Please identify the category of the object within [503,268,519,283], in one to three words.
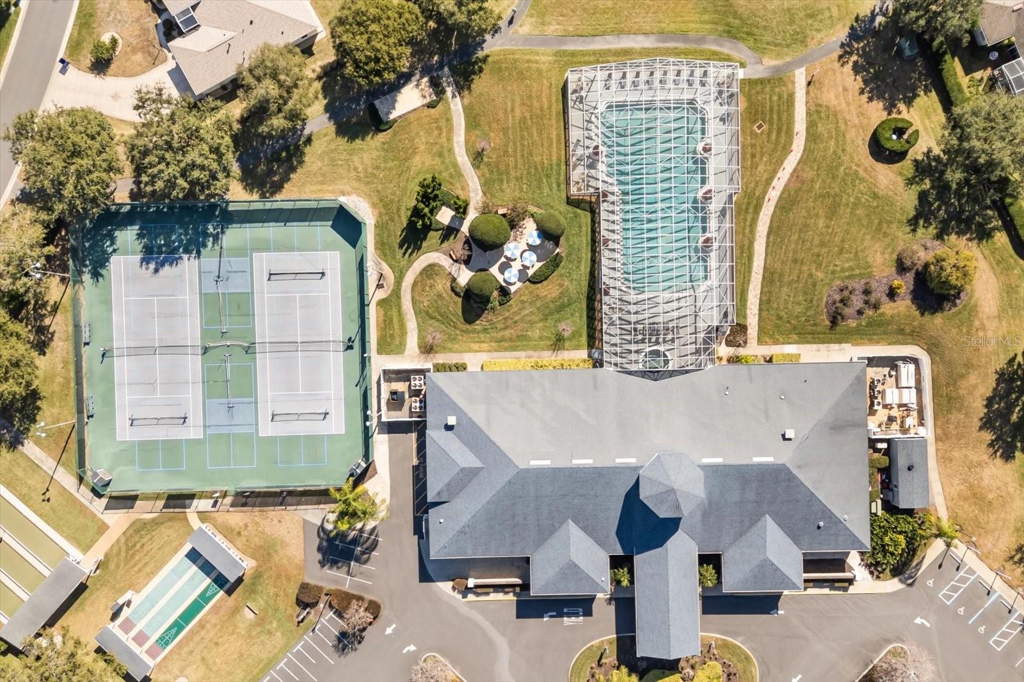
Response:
umbrella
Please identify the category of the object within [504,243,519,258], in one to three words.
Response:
umbrella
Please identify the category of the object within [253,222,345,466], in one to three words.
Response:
tennis court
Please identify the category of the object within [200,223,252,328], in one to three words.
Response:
sports court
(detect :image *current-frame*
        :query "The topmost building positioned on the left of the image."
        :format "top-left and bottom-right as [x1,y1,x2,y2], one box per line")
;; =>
[164,0,318,98]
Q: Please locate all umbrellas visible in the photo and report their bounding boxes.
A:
[521,251,536,266]
[503,268,519,283]
[527,231,542,245]
[504,243,519,258]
